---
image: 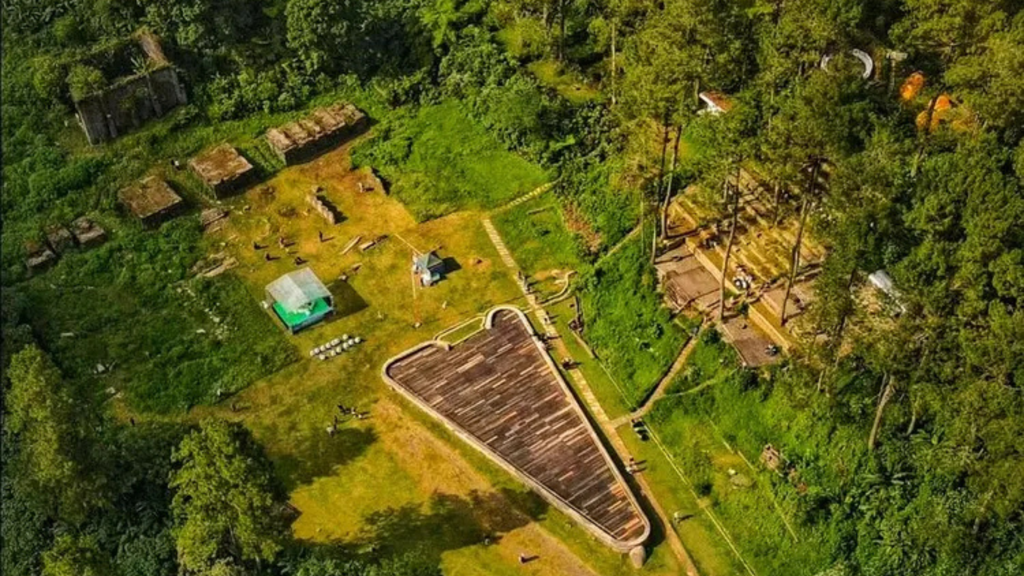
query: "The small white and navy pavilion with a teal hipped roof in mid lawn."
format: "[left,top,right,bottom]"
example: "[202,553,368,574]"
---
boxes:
[410,254,448,297]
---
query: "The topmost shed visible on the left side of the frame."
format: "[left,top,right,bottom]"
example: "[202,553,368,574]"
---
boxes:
[266,102,367,166]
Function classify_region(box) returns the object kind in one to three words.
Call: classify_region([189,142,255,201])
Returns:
shed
